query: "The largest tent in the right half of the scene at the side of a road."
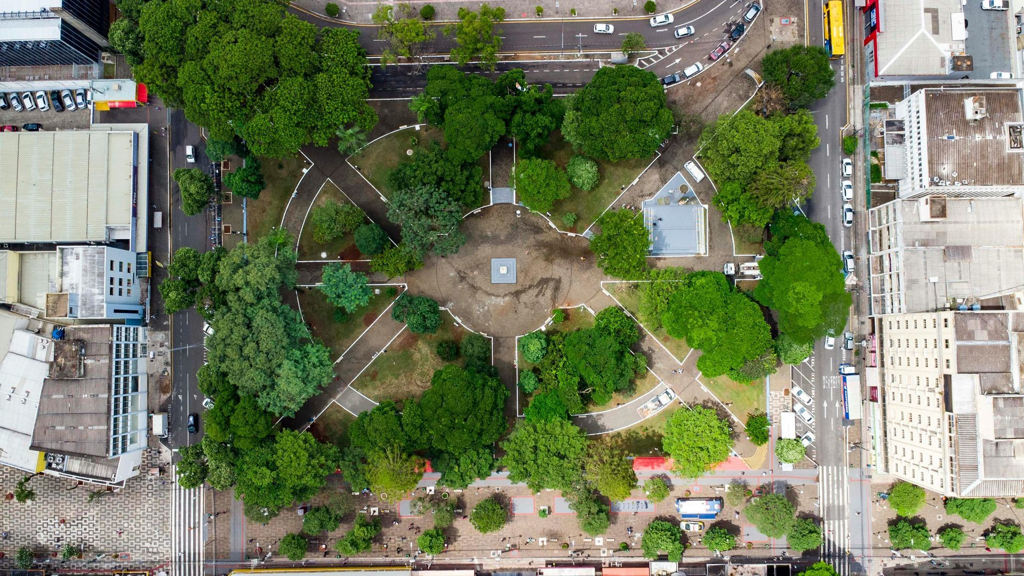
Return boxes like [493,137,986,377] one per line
[779,411,795,439]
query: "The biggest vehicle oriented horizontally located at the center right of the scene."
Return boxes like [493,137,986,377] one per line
[724,261,765,278]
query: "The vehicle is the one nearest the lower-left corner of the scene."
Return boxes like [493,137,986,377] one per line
[149,411,166,440]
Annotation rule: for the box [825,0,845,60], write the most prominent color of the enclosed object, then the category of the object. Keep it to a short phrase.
yellow bus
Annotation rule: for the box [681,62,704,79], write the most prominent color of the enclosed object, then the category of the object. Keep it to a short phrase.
white car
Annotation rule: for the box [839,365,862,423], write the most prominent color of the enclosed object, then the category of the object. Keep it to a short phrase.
white truck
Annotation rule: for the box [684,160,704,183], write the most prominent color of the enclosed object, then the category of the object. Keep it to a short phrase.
white vehicle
